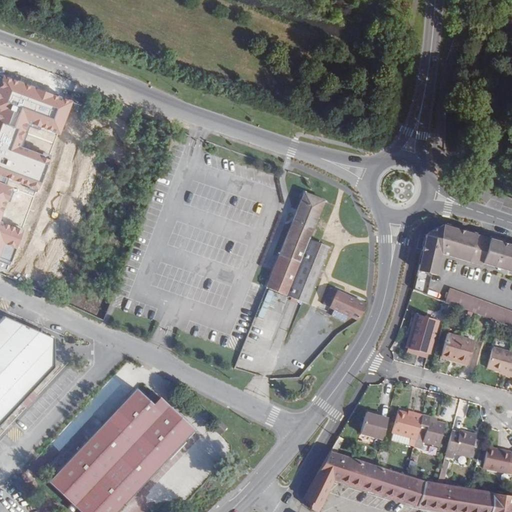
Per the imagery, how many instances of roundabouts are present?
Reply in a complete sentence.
The picture shows just 1 roundabout.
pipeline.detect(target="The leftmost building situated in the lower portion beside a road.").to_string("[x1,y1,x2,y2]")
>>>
[0,318,54,423]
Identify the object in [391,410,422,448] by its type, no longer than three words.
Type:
house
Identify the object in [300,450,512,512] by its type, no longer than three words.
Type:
building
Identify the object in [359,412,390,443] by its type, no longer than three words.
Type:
house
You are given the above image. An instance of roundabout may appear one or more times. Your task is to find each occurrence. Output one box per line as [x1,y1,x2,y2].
[360,148,439,226]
